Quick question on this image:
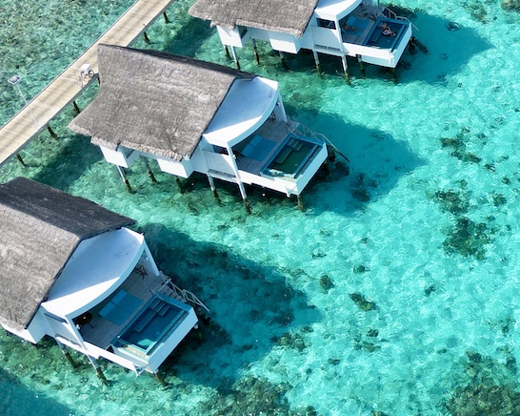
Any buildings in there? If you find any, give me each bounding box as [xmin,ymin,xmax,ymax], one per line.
[71,40,344,200]
[0,172,221,378]
[189,0,427,71]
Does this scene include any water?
Yes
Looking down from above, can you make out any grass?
No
